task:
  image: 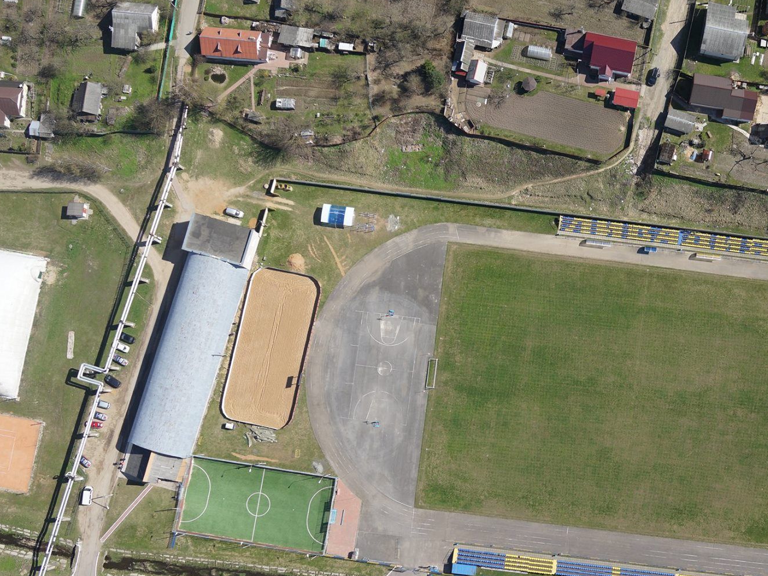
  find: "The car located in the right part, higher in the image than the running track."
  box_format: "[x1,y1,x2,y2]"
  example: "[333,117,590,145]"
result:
[646,66,659,87]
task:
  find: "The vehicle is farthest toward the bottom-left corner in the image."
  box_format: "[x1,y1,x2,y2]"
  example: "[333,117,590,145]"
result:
[80,484,93,508]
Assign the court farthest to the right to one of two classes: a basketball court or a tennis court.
basketball court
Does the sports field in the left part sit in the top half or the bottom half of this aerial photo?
bottom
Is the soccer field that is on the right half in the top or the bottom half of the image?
bottom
